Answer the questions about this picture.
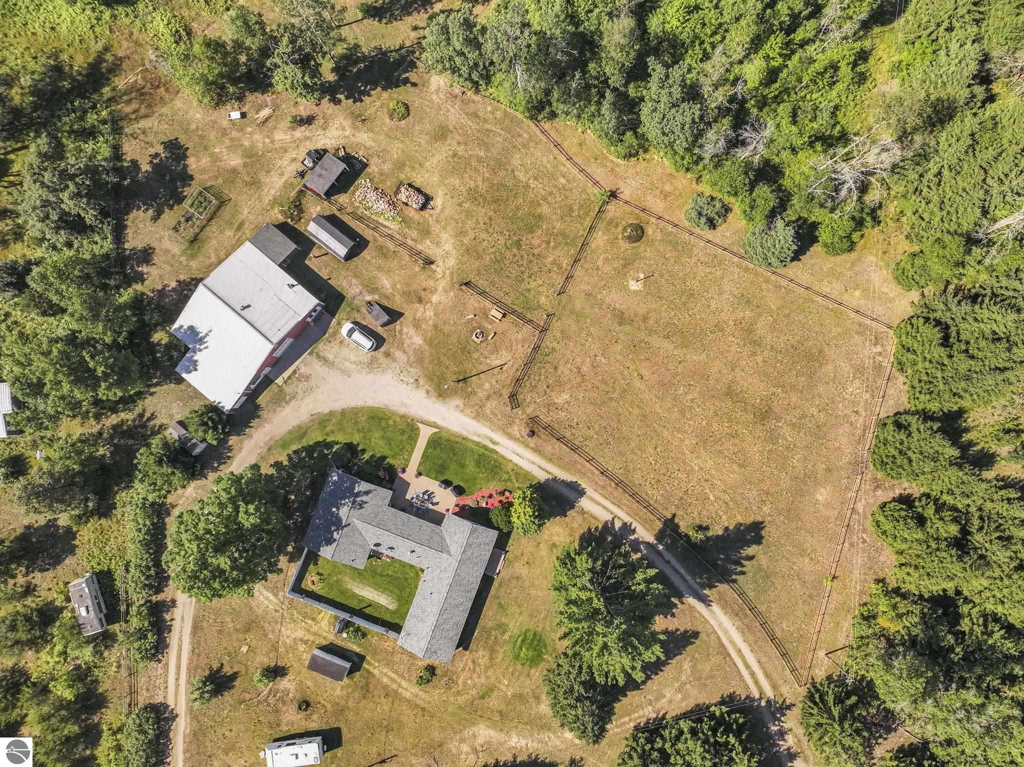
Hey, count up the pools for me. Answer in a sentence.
There are no pools in this view.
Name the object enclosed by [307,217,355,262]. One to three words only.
shed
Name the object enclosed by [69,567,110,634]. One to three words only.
vehicle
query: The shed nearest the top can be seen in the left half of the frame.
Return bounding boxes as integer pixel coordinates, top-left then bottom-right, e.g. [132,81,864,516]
[304,153,348,196]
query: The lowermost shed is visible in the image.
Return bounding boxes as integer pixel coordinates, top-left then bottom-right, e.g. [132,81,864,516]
[307,644,353,682]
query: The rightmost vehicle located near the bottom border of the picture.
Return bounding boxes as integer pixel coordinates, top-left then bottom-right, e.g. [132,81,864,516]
[263,734,324,767]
